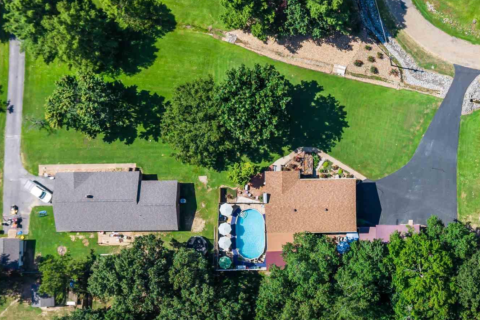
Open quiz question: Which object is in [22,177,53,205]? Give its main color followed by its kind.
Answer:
white truck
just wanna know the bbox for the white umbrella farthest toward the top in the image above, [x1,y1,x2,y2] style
[219,201,234,217]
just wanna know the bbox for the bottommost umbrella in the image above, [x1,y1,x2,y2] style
[218,255,233,269]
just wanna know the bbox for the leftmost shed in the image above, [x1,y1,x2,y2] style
[0,238,26,273]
